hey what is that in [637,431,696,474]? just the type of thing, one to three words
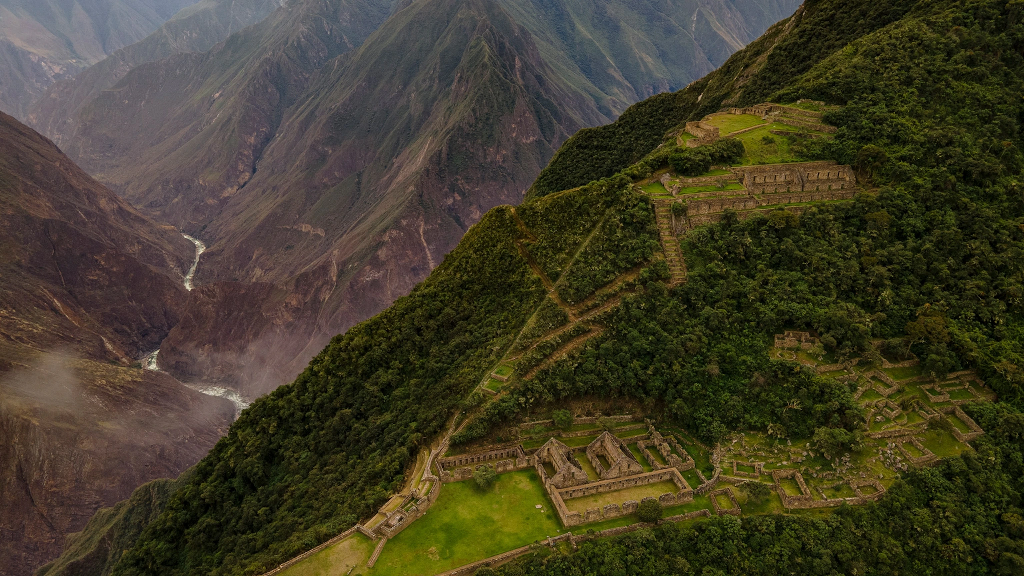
house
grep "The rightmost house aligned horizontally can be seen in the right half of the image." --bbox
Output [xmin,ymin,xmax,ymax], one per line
[772,331,816,352]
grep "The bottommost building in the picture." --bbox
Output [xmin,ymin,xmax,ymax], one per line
[551,464,693,528]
